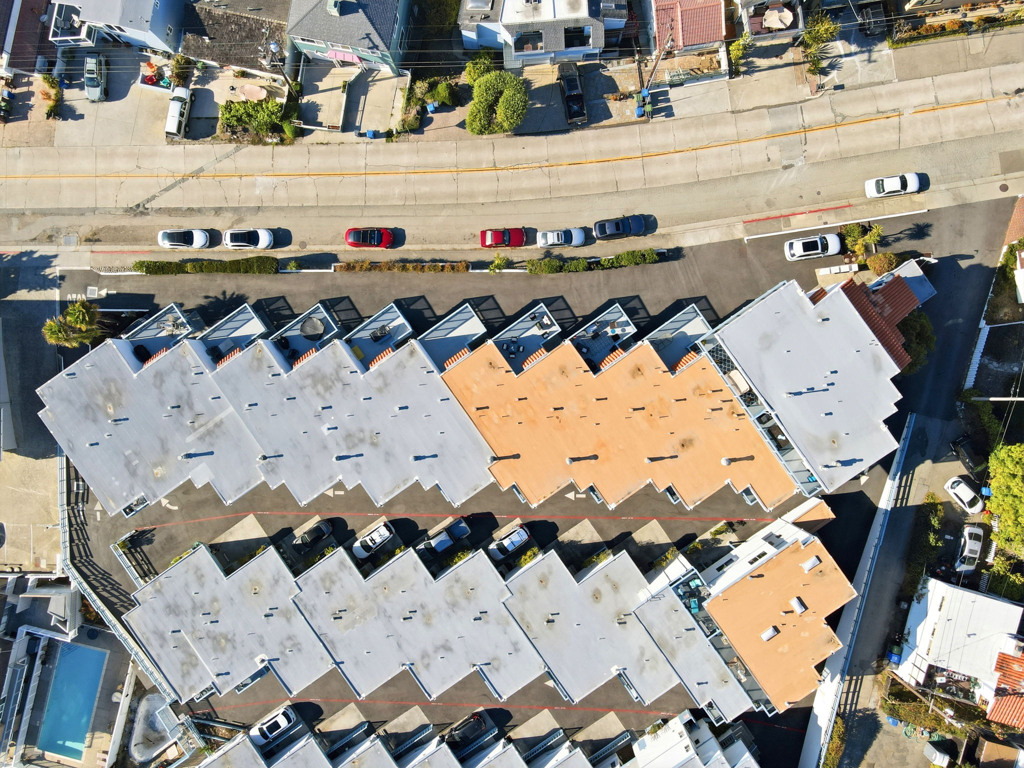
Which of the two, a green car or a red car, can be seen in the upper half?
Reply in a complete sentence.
You can see a red car in the upper half.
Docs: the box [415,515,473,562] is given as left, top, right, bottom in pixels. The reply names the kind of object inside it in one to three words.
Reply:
truck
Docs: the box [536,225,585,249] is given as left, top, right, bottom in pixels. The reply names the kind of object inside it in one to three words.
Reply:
car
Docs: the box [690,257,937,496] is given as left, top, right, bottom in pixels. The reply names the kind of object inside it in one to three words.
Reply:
house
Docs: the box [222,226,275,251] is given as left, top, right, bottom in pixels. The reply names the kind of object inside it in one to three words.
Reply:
car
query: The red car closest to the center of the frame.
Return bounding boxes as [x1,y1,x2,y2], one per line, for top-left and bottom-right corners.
[480,226,526,249]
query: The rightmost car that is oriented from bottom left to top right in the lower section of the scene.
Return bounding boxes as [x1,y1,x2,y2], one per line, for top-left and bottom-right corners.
[484,523,534,563]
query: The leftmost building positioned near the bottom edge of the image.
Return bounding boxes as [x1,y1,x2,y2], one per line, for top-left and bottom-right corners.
[0,550,94,768]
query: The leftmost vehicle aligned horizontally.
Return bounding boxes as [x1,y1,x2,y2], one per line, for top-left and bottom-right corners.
[157,226,211,251]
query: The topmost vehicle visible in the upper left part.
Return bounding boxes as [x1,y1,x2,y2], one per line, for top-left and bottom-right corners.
[82,52,110,104]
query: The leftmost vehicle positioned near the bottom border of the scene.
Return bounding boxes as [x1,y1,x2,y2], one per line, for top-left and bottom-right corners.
[247,703,299,744]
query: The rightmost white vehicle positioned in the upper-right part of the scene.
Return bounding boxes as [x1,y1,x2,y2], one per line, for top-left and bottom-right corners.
[864,172,919,200]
